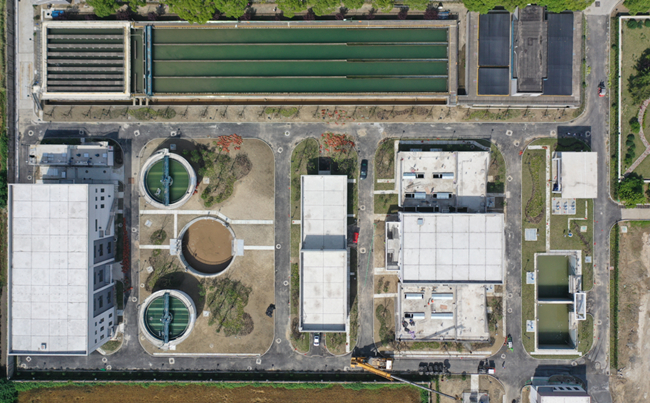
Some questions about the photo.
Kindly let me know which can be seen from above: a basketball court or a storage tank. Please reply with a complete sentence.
It is a storage tank that can be seen here.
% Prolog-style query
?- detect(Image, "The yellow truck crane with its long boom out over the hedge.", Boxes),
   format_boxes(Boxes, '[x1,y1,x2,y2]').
[351,356,460,400]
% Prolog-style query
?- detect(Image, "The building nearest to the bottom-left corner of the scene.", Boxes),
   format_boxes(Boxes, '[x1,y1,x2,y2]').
[9,183,117,355]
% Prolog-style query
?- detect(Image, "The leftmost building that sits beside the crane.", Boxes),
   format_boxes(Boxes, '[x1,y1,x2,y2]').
[299,162,348,332]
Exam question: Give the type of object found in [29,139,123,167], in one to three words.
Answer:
building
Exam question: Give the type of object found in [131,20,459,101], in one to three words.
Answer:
storage tank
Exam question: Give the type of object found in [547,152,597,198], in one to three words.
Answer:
building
